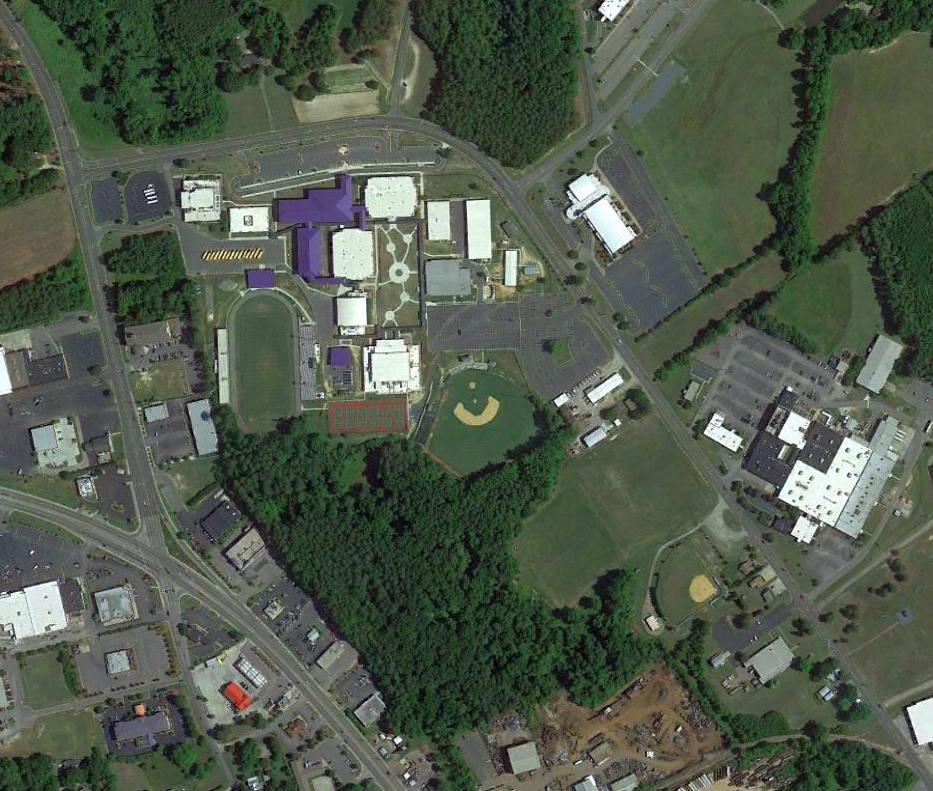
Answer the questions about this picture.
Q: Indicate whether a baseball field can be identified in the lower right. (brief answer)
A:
Yes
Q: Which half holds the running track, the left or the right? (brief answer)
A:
left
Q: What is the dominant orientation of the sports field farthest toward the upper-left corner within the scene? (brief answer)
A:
from top to bottom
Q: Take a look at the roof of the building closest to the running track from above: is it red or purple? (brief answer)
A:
purple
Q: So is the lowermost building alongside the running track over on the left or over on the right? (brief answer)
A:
left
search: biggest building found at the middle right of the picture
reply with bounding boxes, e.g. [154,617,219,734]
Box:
[744,389,901,539]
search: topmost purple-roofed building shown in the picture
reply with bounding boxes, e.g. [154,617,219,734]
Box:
[279,174,353,222]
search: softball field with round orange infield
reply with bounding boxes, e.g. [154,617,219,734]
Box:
[652,539,718,626]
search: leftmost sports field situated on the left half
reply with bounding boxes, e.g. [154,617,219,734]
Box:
[233,294,293,426]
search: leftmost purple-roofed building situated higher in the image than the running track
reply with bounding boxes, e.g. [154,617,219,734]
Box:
[248,268,275,288]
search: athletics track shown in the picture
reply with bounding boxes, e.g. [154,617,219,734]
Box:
[226,288,300,434]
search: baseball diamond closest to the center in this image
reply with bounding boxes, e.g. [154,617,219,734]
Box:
[422,366,538,478]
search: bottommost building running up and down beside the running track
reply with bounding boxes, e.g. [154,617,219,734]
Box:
[187,398,216,457]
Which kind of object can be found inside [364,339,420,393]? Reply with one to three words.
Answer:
building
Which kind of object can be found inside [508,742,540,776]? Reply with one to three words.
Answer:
shed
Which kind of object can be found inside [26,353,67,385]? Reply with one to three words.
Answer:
building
